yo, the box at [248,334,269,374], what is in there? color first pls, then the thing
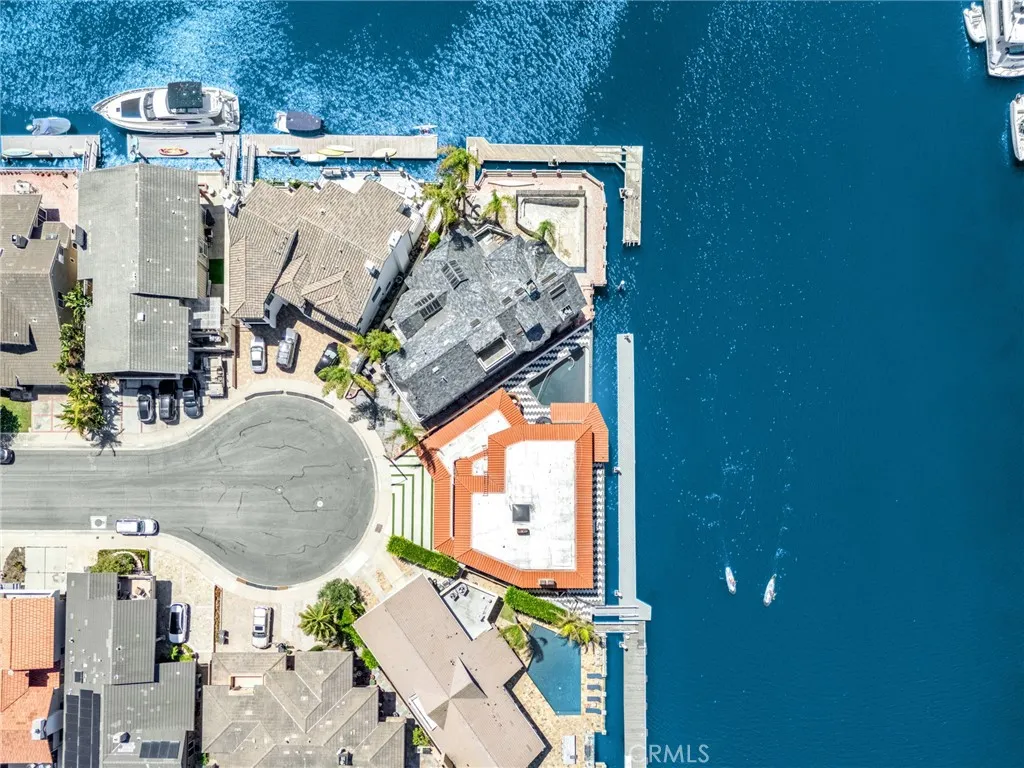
white car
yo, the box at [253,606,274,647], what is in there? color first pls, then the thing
white car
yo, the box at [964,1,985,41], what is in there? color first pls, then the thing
white boat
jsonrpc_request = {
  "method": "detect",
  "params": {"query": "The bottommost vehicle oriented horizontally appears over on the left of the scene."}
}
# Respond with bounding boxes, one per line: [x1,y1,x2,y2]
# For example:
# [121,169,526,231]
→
[118,516,160,536]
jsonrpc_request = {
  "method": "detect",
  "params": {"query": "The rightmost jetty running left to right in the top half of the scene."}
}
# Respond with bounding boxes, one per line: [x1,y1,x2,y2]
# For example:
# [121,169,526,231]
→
[466,137,626,173]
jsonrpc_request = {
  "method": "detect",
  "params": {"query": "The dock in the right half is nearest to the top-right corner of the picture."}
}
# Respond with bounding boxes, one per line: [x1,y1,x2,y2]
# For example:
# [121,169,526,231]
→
[623,146,643,246]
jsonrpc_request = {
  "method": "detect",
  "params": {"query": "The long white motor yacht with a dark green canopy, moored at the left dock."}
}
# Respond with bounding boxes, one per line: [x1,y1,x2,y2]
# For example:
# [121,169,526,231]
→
[90,84,243,134]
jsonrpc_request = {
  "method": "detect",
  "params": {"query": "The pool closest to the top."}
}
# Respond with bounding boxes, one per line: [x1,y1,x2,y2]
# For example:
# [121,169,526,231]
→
[514,190,589,273]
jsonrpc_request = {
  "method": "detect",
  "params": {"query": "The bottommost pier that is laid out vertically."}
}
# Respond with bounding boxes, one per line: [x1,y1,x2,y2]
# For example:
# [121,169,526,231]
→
[623,620,647,768]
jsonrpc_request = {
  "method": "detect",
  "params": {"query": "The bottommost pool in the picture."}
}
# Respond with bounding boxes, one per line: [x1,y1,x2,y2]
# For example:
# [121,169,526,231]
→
[524,620,583,716]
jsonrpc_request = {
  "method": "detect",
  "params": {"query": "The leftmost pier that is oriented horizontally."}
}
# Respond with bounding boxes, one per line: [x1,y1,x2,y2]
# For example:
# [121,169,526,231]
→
[1,135,102,159]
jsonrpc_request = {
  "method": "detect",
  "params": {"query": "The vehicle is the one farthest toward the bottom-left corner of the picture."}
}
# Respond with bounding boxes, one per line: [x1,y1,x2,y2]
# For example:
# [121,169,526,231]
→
[170,602,192,641]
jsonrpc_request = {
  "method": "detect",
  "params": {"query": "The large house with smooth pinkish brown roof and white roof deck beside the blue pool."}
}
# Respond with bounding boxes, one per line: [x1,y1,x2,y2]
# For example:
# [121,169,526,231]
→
[353,574,545,768]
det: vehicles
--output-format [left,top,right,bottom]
[170,602,192,641]
[276,328,301,371]
[350,351,369,374]
[118,516,160,536]
[253,606,274,647]
[136,386,157,422]
[312,340,340,378]
[248,334,269,374]
[156,380,179,421]
[182,377,203,417]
